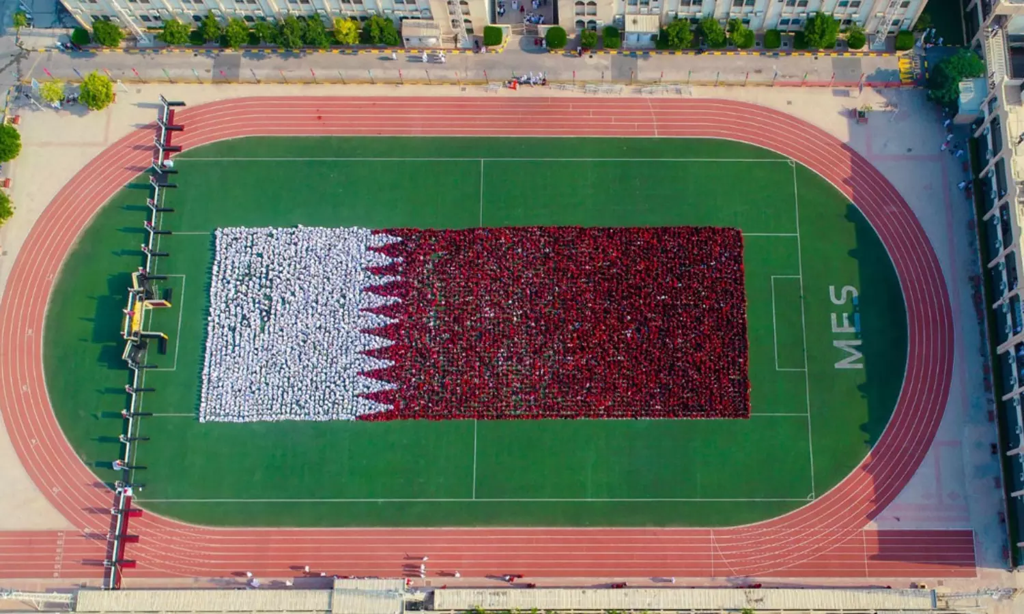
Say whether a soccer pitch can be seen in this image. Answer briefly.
Yes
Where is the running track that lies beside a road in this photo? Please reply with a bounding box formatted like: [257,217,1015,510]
[0,96,977,577]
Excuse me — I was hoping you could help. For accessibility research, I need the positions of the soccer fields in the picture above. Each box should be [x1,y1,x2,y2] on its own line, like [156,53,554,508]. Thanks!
[43,137,907,527]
